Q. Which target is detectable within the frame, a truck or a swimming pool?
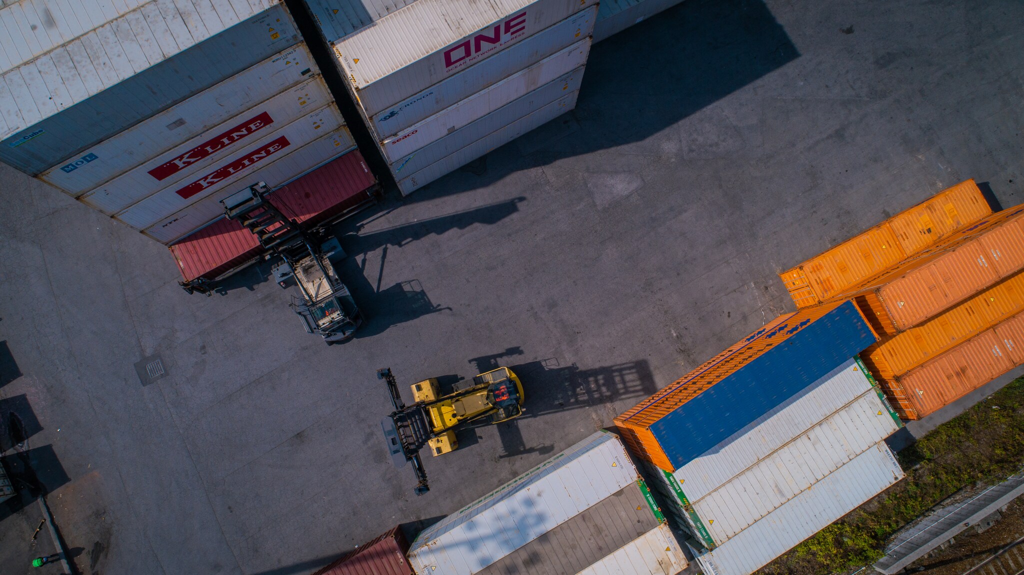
truck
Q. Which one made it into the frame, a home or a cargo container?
cargo container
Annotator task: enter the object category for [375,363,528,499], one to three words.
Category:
truck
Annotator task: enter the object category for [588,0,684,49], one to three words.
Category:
shipping container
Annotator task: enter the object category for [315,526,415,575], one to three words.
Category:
shipping container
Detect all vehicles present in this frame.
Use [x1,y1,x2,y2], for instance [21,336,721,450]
[192,179,390,347]
[375,363,528,499]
